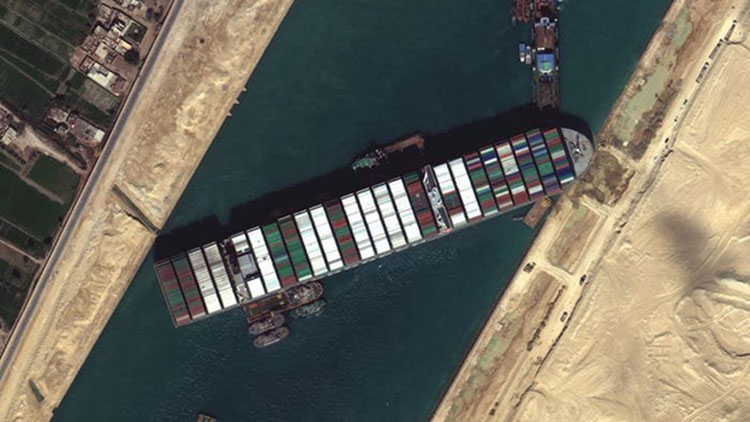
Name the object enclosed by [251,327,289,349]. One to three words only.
boat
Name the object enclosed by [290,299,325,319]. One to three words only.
boat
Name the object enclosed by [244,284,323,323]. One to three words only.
ship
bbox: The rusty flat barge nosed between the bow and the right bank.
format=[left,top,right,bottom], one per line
[524,197,552,228]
